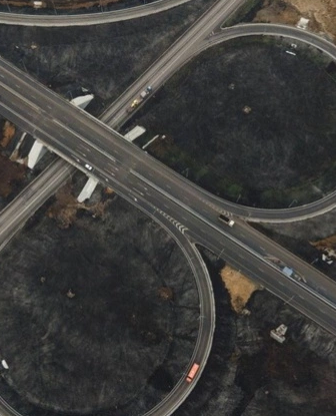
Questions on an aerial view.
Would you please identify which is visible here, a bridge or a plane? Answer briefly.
bridge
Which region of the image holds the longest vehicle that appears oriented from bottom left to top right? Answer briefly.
top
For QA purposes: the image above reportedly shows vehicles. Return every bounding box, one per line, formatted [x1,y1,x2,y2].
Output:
[219,213,235,226]
[132,97,141,106]
[274,260,305,283]
[83,163,92,170]
[126,84,153,112]
[186,363,200,383]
